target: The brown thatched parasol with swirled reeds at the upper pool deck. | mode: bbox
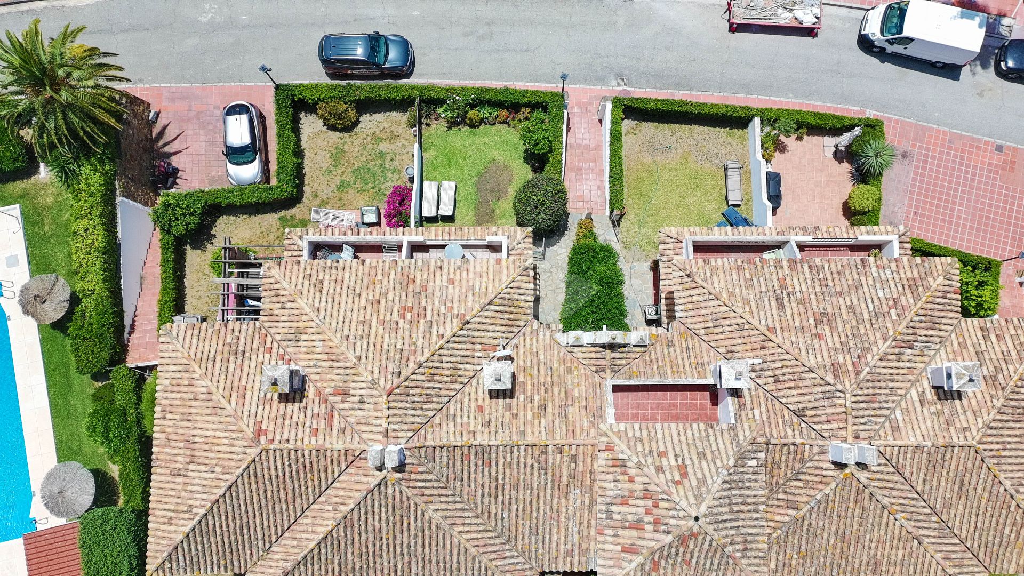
[18,272,74,327]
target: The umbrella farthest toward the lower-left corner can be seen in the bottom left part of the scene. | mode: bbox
[35,461,94,522]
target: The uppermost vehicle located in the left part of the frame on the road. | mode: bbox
[317,30,415,81]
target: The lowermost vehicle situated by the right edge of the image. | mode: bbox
[991,44,1024,89]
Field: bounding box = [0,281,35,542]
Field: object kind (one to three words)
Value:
swimming pool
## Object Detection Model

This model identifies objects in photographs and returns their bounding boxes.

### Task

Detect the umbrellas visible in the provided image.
[823,118,871,158]
[35,461,94,522]
[18,272,74,327]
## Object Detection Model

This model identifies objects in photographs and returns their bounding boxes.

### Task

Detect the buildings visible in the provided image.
[657,225,1024,576]
[139,226,607,576]
[21,518,87,576]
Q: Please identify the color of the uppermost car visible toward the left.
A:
blue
